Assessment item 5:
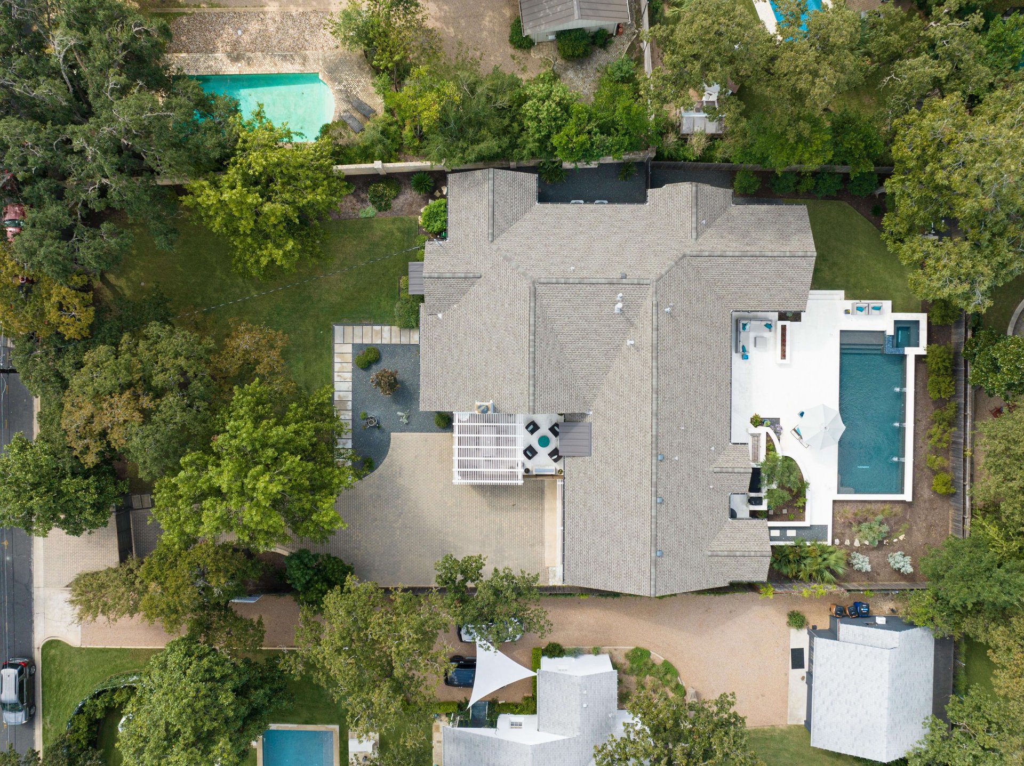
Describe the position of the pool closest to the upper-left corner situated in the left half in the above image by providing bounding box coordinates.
[174,73,334,142]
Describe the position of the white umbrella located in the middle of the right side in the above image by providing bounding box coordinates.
[791,399,847,455]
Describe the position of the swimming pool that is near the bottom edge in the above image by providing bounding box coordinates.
[256,724,339,766]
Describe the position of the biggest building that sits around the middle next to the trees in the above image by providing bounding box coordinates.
[408,169,816,596]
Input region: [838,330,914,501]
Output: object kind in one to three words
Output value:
swimming pool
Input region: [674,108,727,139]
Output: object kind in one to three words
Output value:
greenhouse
